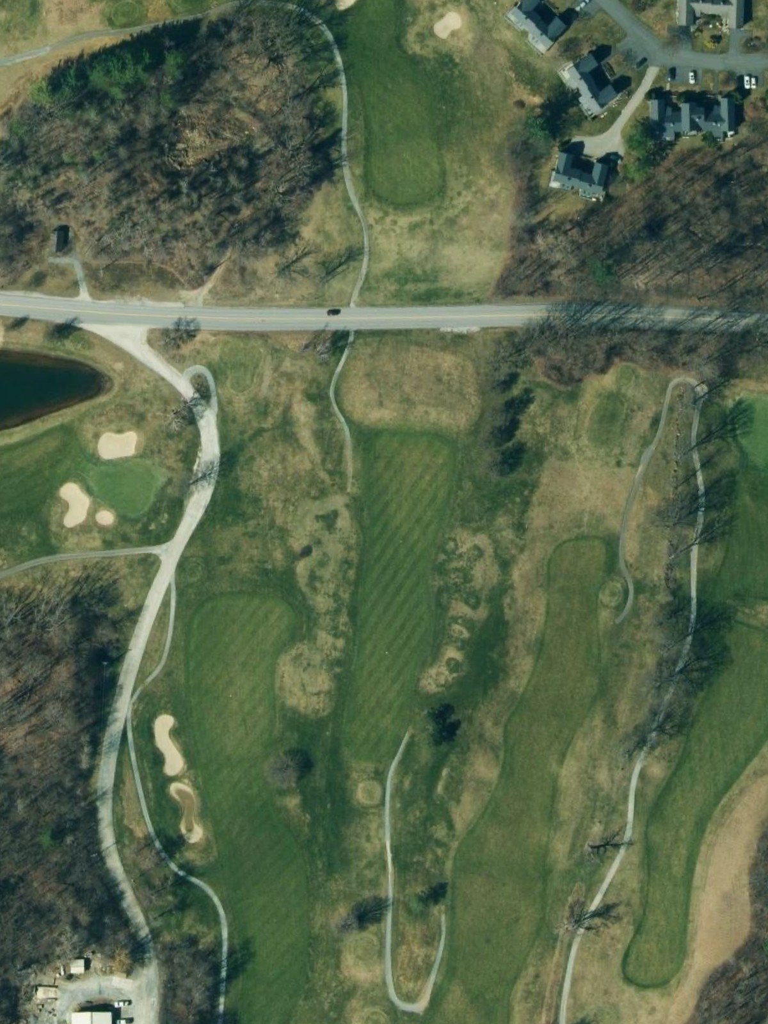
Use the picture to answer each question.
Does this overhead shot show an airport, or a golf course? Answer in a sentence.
This looks like a golf course.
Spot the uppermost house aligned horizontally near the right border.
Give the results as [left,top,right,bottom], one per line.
[677,0,746,28]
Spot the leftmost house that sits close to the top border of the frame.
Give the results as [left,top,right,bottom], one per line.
[505,0,570,56]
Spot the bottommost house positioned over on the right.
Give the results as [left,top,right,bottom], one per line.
[550,150,610,202]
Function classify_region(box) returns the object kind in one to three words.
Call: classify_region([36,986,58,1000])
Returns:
shed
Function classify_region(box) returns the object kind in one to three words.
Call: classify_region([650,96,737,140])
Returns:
house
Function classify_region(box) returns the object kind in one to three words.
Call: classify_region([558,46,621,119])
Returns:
house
